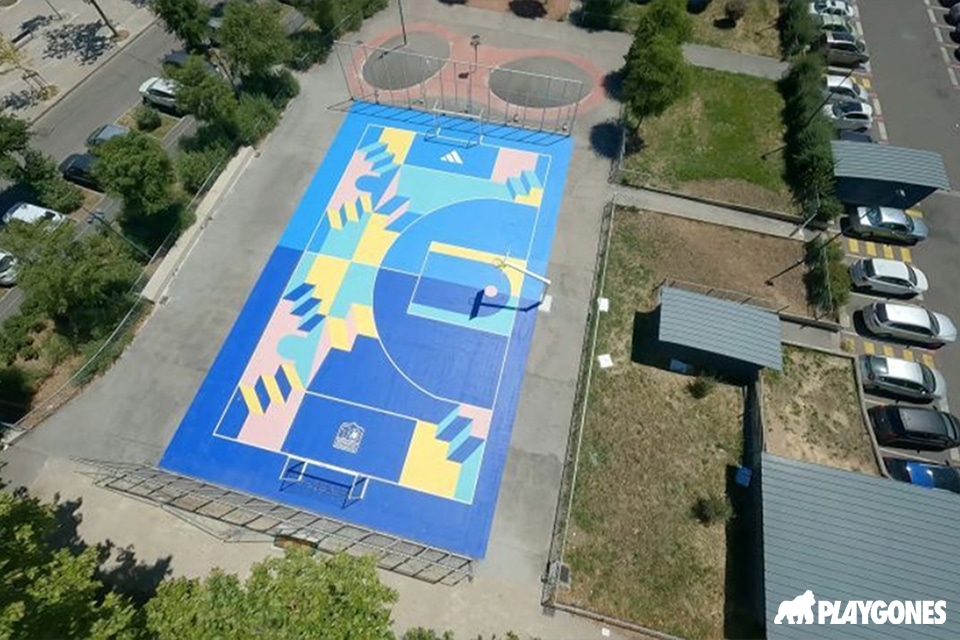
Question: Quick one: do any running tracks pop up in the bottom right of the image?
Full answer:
No, I see no running track in the bottom right of the image.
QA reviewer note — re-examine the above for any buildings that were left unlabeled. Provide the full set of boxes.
[818,138,952,213]
[757,456,960,640]
[649,287,782,375]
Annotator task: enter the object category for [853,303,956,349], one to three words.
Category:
car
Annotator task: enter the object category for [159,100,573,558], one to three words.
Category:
sports court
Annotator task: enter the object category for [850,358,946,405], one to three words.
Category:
car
